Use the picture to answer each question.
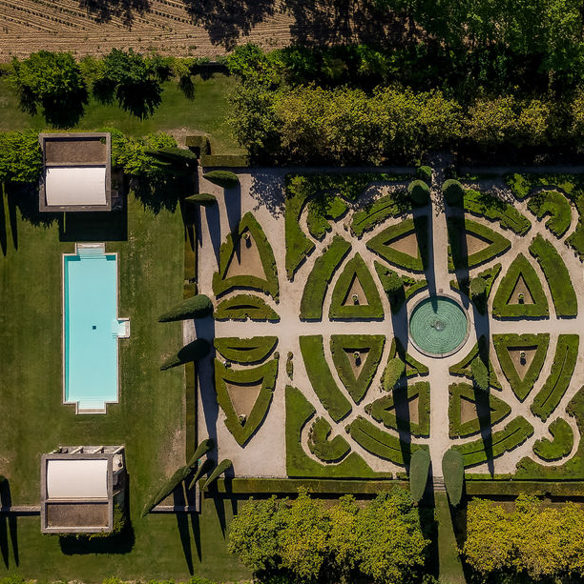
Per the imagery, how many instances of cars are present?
zero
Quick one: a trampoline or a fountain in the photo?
fountain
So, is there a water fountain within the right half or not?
Yes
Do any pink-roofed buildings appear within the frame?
No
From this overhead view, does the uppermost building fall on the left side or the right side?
left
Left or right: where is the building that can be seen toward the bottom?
left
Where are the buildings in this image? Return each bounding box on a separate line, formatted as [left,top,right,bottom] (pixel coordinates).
[41,447,124,533]
[39,133,122,212]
